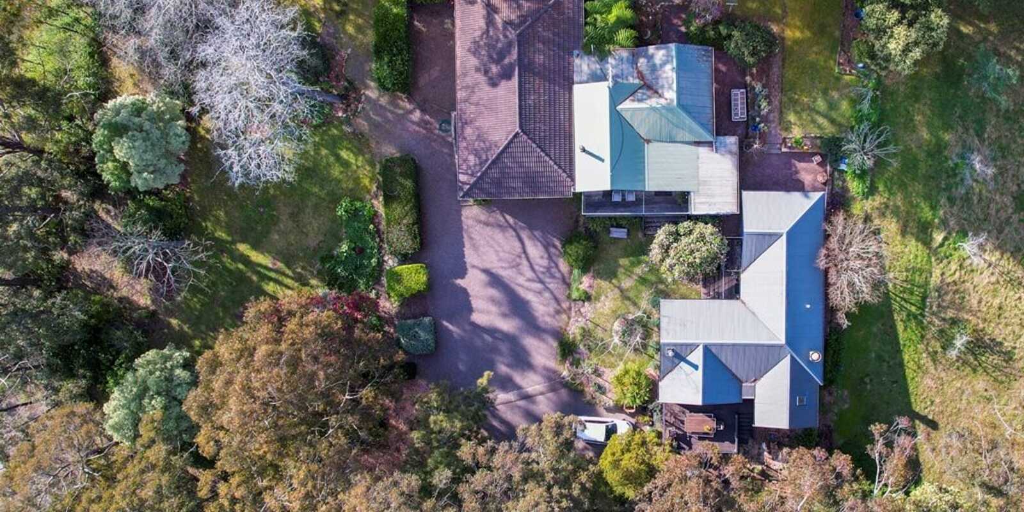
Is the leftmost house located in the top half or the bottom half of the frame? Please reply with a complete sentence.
You can find the leftmost house in the top half.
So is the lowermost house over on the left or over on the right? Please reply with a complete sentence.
You can find the lowermost house on the right side of the picture.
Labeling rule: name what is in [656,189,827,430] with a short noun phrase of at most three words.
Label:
house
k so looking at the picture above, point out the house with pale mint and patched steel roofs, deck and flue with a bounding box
[574,41,742,215]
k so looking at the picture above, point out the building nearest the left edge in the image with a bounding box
[455,0,576,199]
